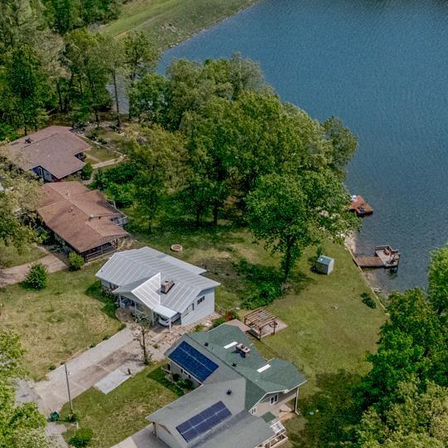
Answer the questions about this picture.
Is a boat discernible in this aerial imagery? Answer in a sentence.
No, no boat is visible in the view.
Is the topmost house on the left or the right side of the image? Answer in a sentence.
It is on the left.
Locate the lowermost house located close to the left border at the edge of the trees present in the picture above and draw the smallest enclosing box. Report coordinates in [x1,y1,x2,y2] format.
[19,184,138,263]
